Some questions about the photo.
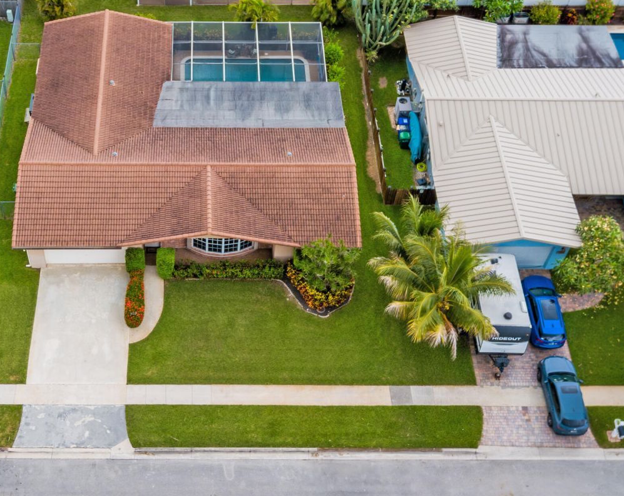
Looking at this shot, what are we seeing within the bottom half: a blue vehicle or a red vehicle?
blue vehicle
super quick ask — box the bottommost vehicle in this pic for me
[531,358,588,441]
